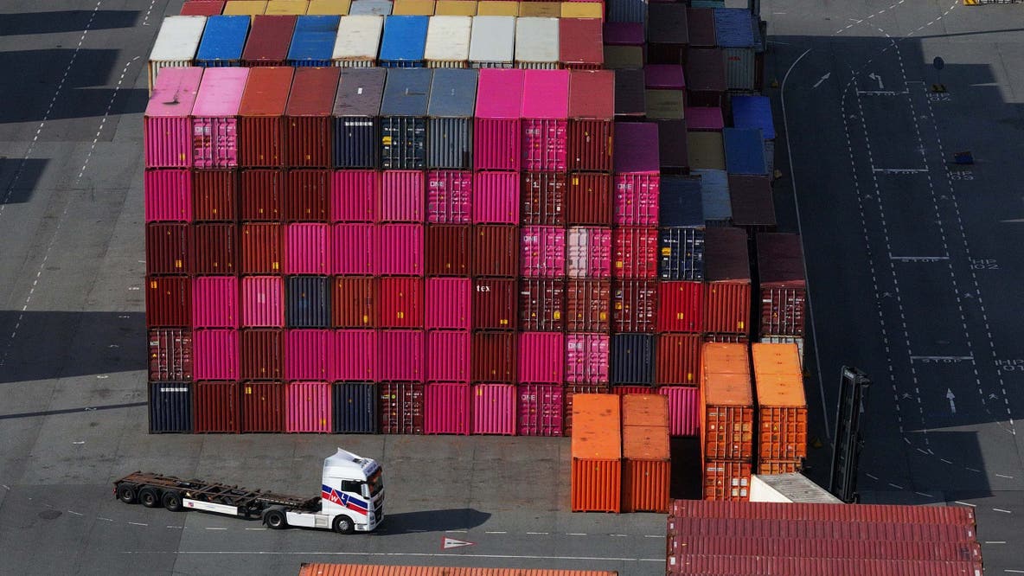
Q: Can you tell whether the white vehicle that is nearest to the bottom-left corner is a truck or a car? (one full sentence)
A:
I'd identify the white vehicle that is nearest to the bottom-left corner as a truck.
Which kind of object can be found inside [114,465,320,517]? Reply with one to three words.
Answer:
trailer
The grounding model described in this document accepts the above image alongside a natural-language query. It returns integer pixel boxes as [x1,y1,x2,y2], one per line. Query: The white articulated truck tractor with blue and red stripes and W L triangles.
[262,447,383,533]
